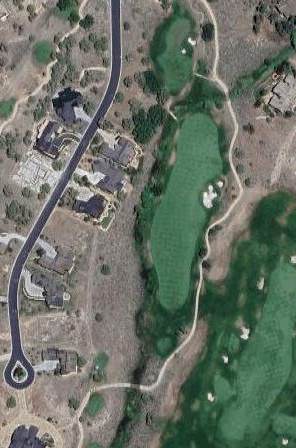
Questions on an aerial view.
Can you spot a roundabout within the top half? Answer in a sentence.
No, I can find no roundabout within the top half.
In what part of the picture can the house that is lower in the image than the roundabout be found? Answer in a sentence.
The house that is lower in the image than the roundabout sits in the bottom left section of the image.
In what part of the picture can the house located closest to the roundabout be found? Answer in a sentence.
The house located closest to the roundabout appears toward the bottom left of the photo.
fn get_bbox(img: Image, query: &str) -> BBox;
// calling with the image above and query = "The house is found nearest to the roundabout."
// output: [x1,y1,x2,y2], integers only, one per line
[42,341,81,379]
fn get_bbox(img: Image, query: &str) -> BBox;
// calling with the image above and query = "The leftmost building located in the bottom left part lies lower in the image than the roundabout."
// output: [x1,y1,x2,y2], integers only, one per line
[8,424,45,448]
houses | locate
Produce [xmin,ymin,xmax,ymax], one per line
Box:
[8,424,45,448]
[41,245,77,273]
[53,88,83,117]
[105,135,140,165]
[34,118,65,158]
[73,193,114,230]
[94,160,124,187]
[262,67,296,116]
[31,269,70,308]
[42,341,81,379]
